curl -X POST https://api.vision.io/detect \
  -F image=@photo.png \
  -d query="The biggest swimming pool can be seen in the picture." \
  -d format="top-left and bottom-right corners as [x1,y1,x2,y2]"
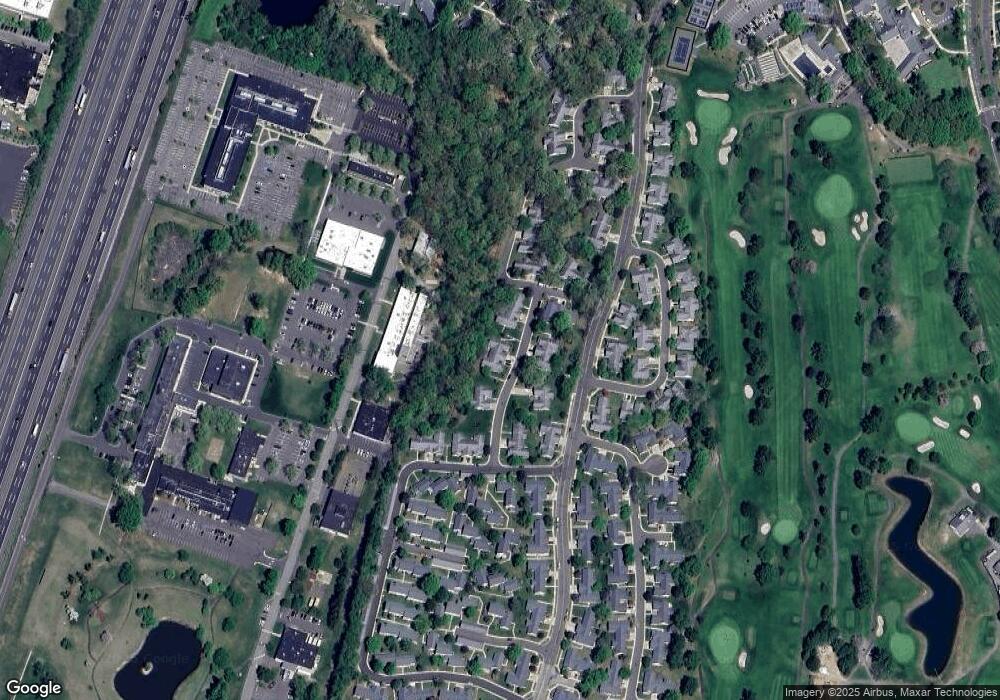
[780,37,836,80]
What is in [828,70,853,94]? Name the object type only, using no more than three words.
barn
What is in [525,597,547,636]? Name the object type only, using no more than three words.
house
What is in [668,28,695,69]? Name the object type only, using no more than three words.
tennis court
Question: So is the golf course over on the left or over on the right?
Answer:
right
